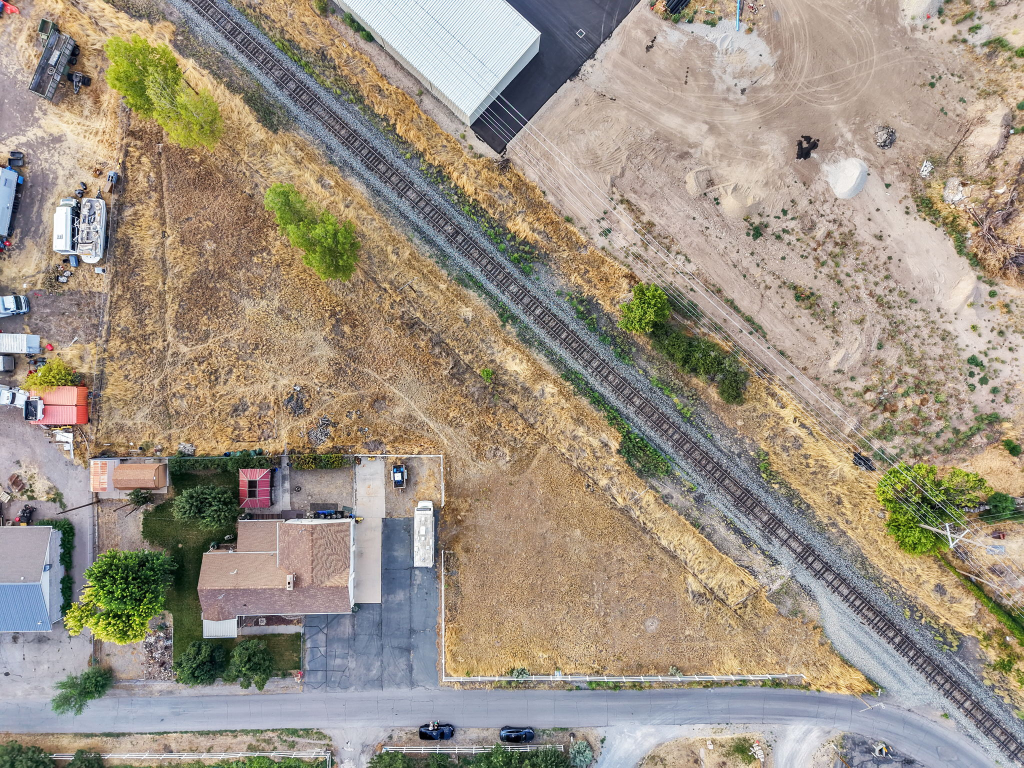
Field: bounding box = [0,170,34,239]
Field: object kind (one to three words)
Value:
trailer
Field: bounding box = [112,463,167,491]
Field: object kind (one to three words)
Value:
shed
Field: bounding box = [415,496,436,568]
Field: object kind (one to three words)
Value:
camper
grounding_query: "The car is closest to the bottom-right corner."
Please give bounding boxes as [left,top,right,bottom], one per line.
[500,724,534,744]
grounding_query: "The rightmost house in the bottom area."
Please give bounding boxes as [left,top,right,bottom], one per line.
[198,516,358,639]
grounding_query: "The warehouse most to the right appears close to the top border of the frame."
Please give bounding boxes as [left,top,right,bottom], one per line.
[334,0,543,126]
